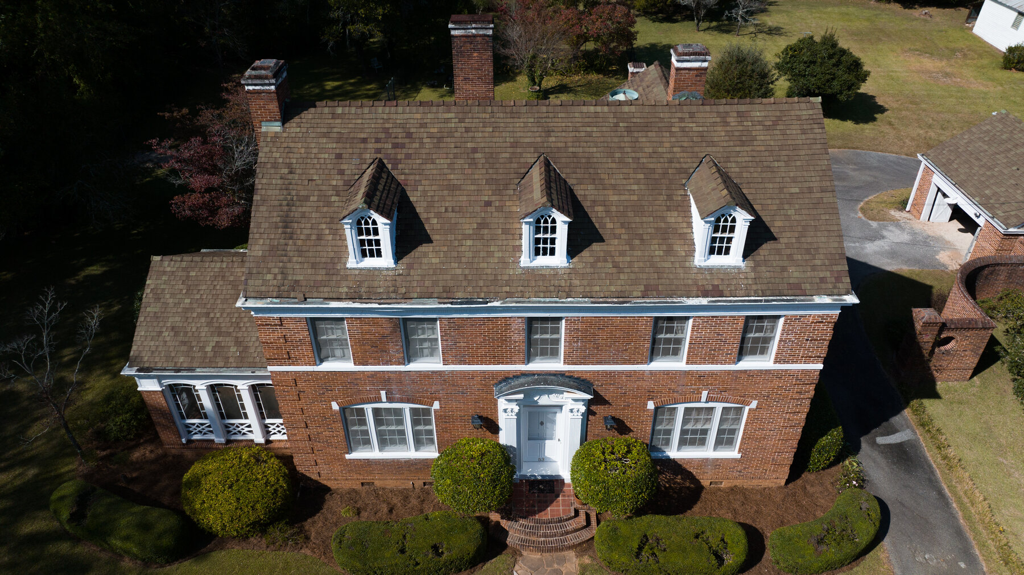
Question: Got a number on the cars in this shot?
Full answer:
No cars are visible.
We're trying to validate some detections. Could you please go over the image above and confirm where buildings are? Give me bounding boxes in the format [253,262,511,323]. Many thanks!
[905,109,1024,264]
[948,0,1024,53]
[117,8,859,489]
